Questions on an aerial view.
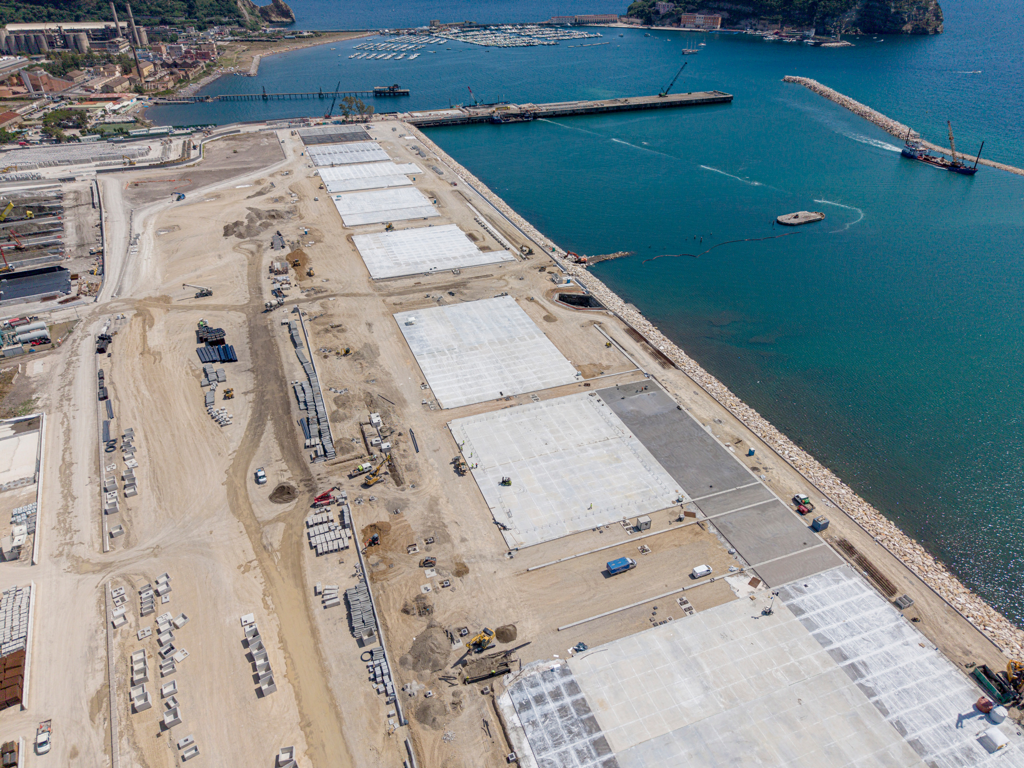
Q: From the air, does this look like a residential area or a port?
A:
port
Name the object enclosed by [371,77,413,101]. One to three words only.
pier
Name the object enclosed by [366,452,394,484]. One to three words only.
work vehicle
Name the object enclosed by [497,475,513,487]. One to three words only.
vehicle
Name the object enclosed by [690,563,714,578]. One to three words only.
vehicle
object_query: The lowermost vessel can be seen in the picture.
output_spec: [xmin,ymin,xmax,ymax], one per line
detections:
[775,211,829,225]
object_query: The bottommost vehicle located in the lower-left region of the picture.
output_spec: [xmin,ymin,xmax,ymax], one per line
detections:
[32,719,51,753]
